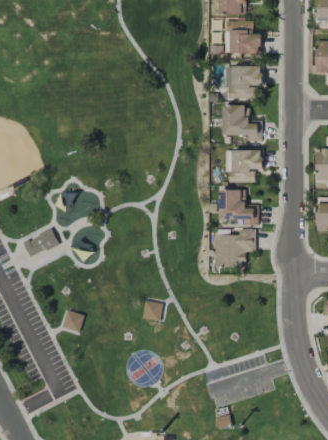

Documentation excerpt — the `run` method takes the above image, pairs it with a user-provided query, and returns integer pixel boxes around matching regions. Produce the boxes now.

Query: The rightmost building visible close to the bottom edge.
[216,407,234,428]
